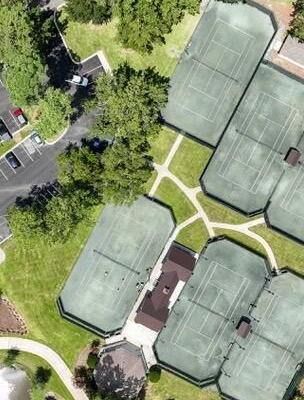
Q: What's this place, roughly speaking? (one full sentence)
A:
It's a sports ground.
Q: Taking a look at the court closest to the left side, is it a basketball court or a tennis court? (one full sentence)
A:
I'd say the court closest to the left side is a tennis court.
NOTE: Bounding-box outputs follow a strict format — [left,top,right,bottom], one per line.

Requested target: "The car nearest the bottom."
[7,150,21,168]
